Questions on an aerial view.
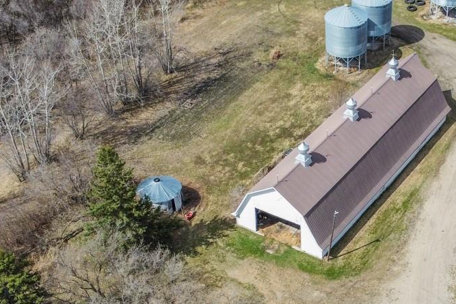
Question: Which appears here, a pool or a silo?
silo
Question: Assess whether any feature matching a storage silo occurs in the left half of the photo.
No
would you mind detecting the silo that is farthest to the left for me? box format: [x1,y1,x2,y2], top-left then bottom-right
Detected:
[326,3,366,71]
